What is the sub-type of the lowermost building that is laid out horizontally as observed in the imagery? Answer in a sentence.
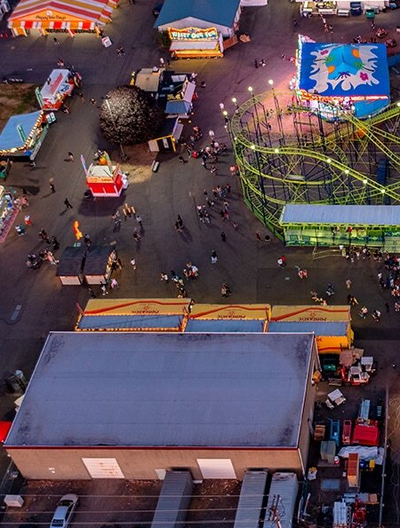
Specifically, the lowermost building that is laid out horizontally is a warehouse.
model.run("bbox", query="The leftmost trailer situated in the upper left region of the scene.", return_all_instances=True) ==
[28,64,79,105]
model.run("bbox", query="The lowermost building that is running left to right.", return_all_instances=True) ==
[2,331,320,475]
